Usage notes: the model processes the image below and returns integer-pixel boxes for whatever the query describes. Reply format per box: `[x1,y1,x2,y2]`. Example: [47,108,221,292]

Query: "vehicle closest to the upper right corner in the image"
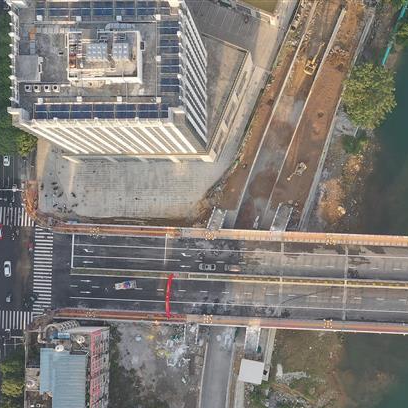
[303,47,321,73]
